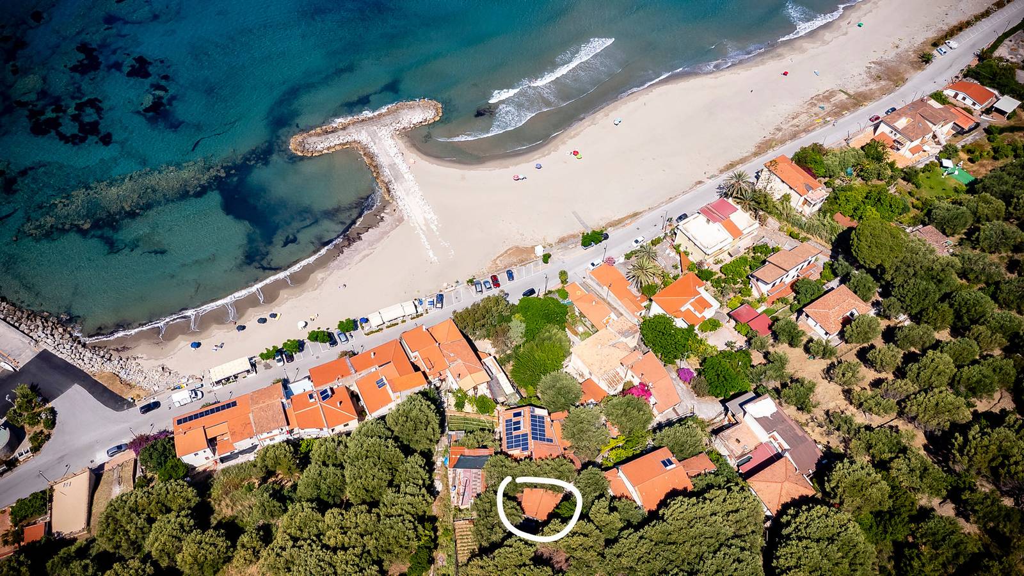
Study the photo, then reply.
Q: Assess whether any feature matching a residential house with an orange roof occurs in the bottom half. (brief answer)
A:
Yes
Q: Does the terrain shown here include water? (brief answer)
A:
Yes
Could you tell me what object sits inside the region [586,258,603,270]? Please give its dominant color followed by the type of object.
white vehicle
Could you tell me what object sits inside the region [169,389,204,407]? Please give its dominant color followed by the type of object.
white vehicle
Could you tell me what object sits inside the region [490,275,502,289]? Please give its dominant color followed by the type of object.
red vehicle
